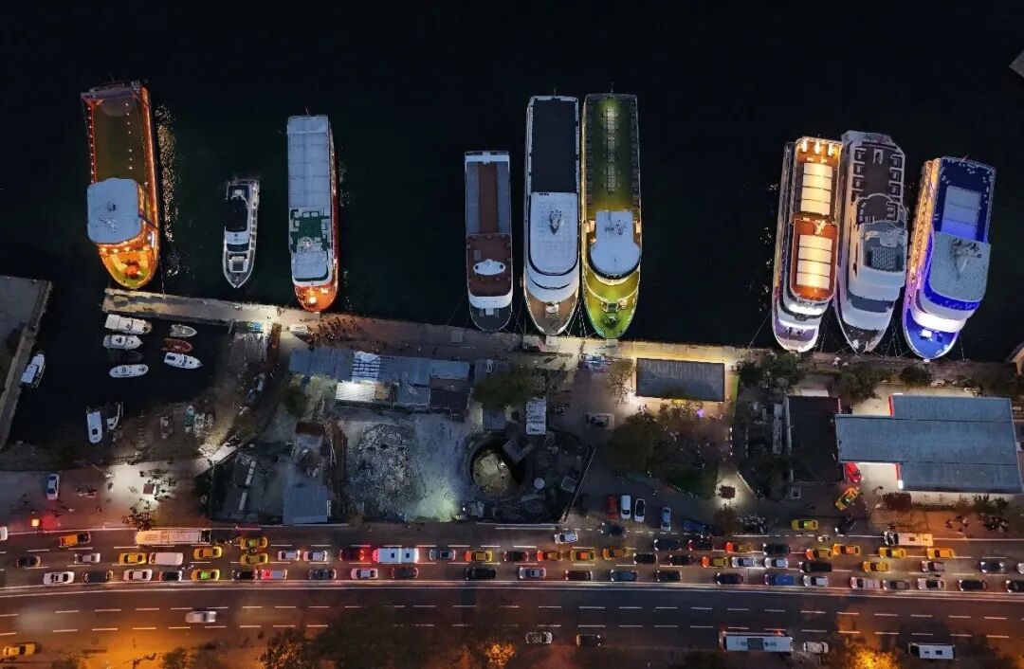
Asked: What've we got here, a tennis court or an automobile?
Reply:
automobile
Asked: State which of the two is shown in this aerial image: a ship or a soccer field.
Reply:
ship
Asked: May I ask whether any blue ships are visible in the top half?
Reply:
Yes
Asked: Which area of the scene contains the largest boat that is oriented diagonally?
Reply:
left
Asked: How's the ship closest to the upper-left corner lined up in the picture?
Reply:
vertically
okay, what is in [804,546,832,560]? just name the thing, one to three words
car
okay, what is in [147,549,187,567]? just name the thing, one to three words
vehicle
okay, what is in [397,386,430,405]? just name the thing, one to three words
shed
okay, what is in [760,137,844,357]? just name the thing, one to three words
ship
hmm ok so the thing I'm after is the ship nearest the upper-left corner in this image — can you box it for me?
[80,78,170,298]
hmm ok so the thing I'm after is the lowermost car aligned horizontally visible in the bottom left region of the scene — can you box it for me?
[3,642,36,658]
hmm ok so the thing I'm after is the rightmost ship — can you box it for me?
[893,155,998,361]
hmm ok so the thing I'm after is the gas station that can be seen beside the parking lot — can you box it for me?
[836,393,1023,494]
